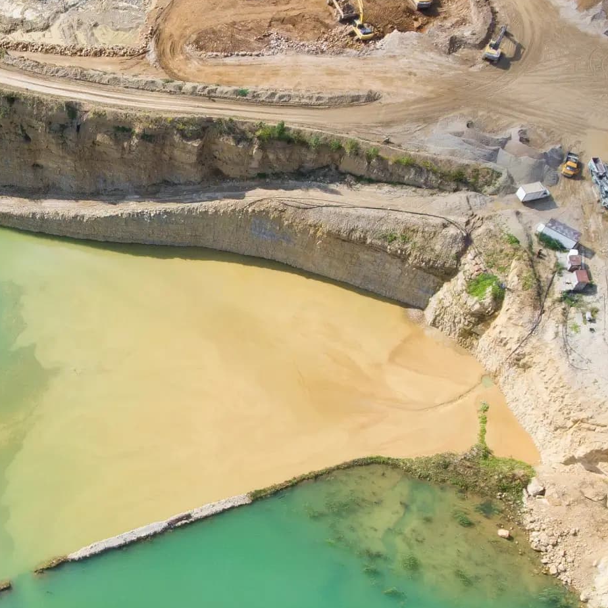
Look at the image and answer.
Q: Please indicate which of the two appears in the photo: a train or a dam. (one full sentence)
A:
It is a dam that can be seen here.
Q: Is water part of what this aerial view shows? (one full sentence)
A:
Yes, the picture does contain water.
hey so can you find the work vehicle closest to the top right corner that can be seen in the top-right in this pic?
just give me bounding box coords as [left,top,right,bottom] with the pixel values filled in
[483,6,514,62]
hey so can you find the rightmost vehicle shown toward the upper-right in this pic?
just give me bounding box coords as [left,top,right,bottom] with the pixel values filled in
[563,147,583,183]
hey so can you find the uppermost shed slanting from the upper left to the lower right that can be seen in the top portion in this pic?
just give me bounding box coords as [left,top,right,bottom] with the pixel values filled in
[541,216,582,247]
